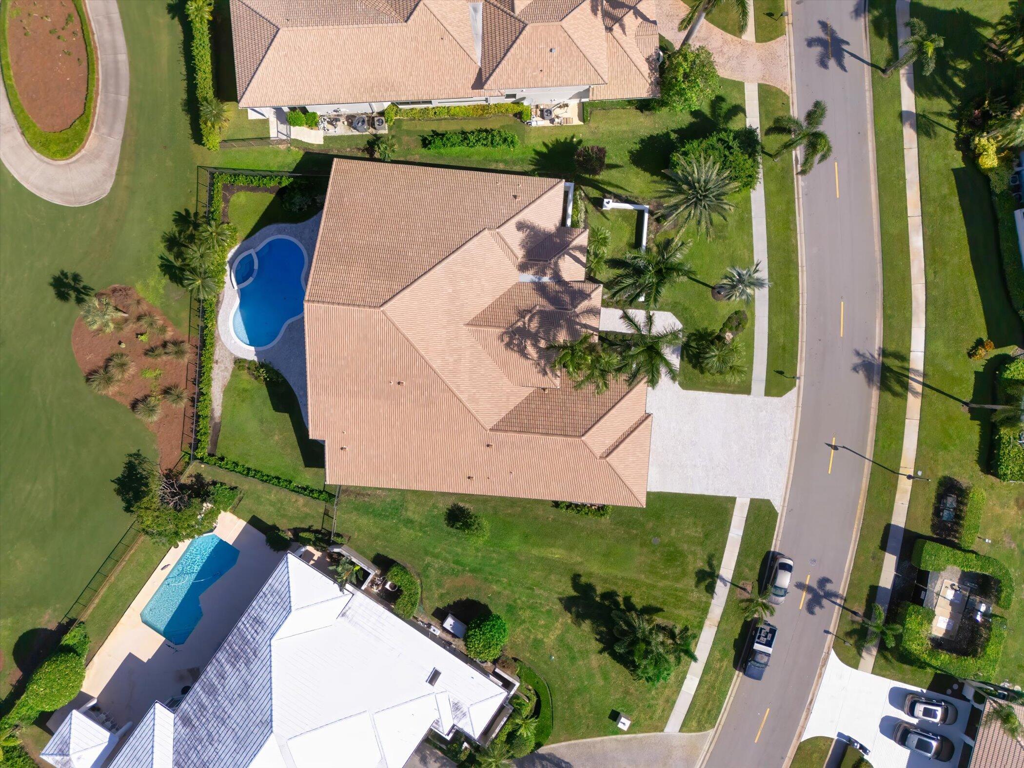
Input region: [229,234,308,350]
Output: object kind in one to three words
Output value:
swimming pool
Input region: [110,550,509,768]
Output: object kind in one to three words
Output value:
house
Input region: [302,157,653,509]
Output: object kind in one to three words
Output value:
house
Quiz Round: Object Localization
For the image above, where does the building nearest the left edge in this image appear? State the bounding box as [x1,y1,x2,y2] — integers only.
[39,695,133,768]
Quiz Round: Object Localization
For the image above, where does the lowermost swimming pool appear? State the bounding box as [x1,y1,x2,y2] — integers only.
[137,531,244,648]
